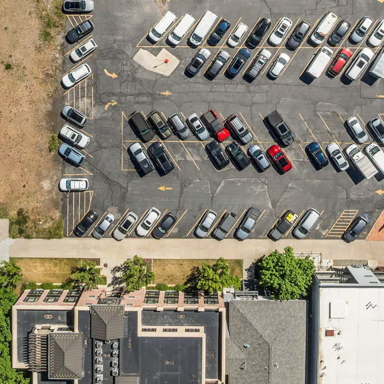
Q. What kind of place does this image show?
parking lot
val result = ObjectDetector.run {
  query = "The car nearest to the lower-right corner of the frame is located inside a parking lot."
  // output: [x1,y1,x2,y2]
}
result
[343,214,368,244]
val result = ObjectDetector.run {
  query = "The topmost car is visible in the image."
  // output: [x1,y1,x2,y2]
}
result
[63,0,94,13]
